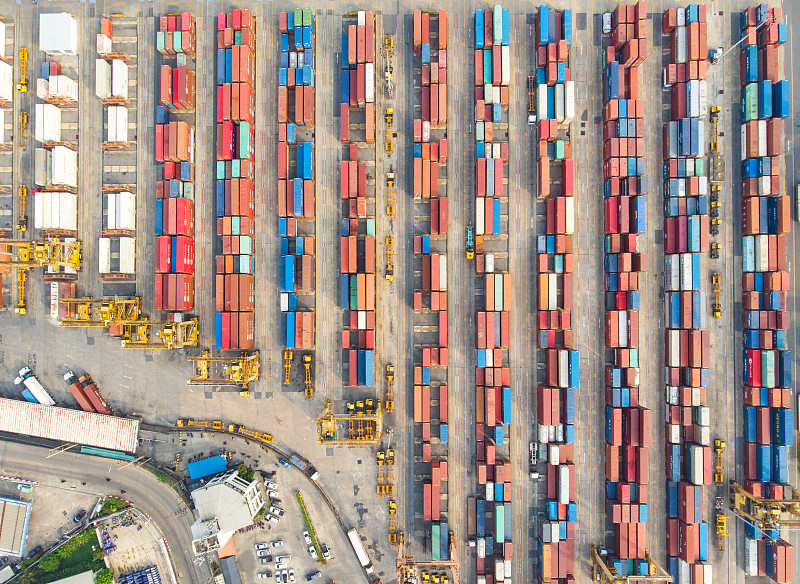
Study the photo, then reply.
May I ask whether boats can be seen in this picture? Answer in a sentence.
No, no boat is visible in the scene.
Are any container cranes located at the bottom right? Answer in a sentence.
Yes, I can see a container crane at the bottom right.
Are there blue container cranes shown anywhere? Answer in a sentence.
No, I can see no blue container crane in this picture.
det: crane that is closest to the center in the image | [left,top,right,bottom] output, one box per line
[315,399,384,447]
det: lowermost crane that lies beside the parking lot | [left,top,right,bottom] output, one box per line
[393,530,459,584]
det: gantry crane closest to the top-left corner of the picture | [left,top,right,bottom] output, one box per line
[0,237,83,276]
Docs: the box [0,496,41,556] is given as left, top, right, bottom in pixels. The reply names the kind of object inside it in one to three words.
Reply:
building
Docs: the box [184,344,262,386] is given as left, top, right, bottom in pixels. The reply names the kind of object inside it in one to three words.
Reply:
container crane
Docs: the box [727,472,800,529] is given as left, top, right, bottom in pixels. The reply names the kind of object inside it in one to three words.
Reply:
container crane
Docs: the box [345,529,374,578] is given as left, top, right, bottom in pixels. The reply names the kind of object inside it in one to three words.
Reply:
truck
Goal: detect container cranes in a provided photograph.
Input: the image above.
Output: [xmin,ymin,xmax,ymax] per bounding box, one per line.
[727,472,800,529]
[315,399,384,447]
[57,291,142,329]
[588,543,673,584]
[184,344,262,386]
[120,312,202,351]
[393,530,459,584]
[0,237,83,276]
